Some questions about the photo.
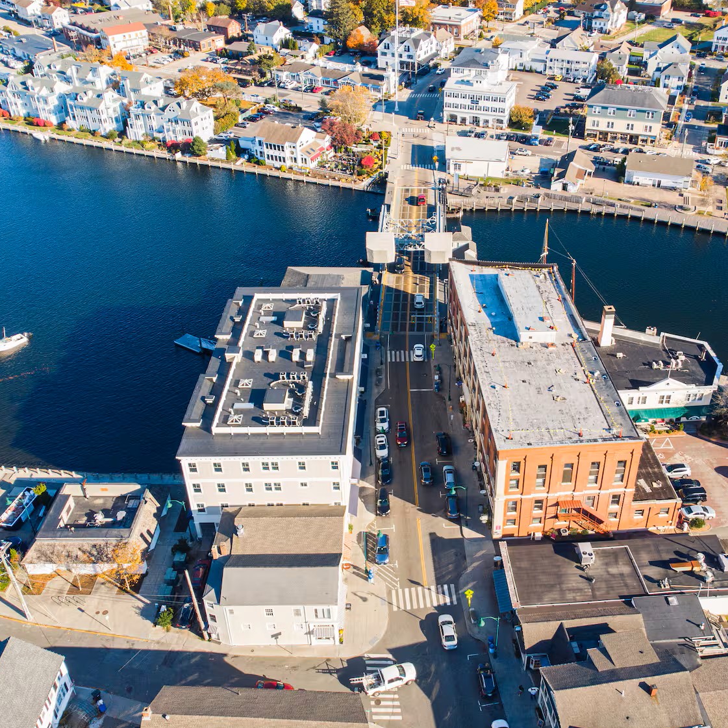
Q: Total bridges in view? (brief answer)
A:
1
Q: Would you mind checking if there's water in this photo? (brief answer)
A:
Yes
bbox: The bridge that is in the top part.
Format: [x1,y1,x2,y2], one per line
[366,189,458,338]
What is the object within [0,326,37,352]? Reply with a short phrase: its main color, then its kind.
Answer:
white boat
